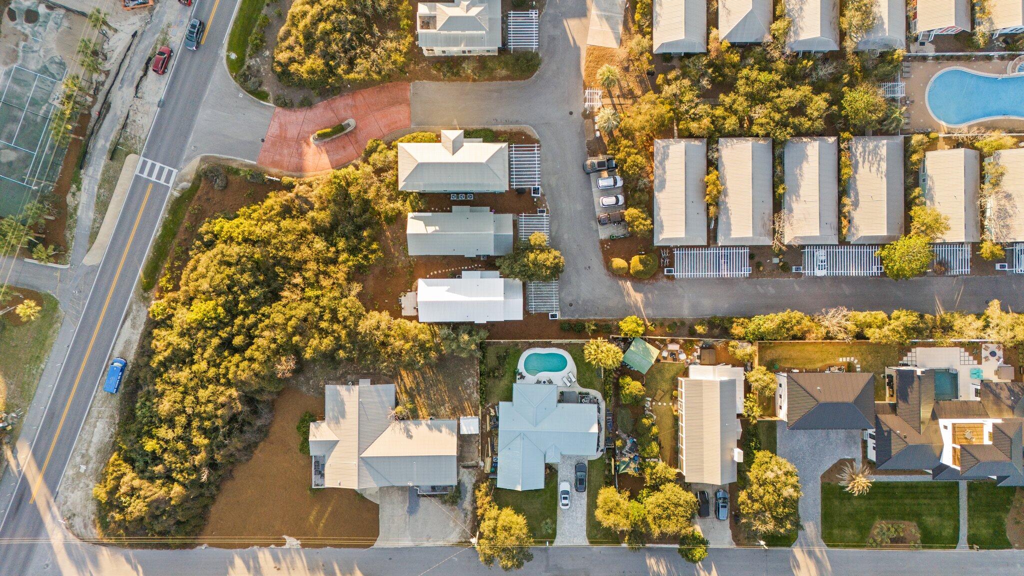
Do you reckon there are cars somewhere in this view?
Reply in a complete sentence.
Yes, a car appears in the view.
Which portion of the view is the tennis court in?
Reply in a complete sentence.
The tennis court is located in the top left region of the scene.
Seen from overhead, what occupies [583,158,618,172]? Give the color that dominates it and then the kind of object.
gray vehicle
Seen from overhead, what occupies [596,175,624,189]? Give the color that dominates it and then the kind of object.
white car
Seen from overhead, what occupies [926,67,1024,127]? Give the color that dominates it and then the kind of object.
blue swimming pool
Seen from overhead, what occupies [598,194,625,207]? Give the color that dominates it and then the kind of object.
white vehicle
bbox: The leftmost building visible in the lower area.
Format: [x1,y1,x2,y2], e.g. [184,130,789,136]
[307,379,457,495]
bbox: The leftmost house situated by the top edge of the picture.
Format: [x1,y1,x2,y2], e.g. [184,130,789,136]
[418,0,502,49]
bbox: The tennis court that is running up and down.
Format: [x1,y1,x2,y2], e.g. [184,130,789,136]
[0,0,67,220]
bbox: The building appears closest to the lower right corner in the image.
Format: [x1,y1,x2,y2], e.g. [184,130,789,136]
[866,367,1024,488]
